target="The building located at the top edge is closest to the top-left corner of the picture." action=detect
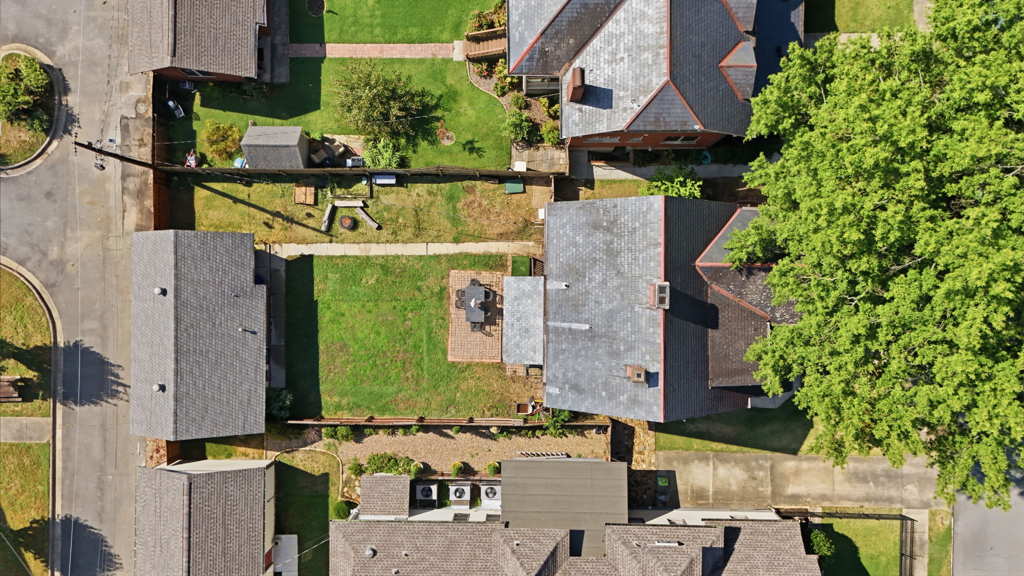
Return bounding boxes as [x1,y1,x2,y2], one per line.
[128,0,270,82]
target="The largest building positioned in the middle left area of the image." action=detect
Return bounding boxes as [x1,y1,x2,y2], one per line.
[130,230,271,441]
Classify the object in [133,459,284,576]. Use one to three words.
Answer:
building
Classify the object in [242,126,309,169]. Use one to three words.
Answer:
shed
